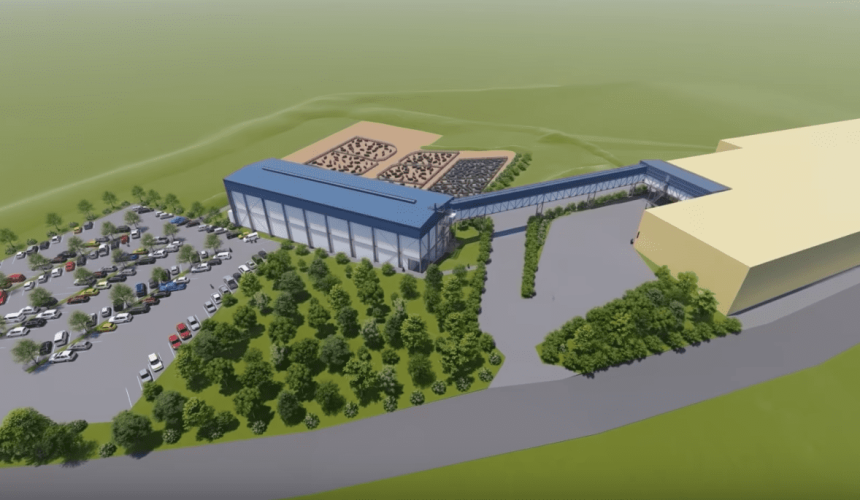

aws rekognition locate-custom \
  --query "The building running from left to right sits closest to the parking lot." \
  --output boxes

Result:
[223,158,454,276]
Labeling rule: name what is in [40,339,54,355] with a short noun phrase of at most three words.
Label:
vehicle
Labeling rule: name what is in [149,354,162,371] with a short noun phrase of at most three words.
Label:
vehicle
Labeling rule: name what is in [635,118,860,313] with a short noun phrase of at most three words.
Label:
building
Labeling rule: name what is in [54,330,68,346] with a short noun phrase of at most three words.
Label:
car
